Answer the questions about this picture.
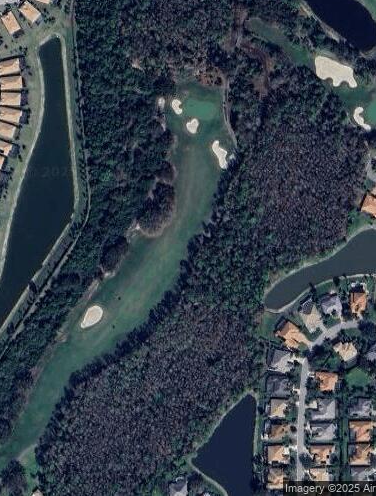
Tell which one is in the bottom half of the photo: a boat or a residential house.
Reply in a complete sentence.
The one visible in the bottom half of the photo is a residential house.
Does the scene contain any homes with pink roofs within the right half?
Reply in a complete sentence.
No, no home with a pink roof can be made out within the right half.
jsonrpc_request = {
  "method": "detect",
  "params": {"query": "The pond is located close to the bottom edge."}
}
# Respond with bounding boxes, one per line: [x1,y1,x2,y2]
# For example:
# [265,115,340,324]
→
[192,395,257,496]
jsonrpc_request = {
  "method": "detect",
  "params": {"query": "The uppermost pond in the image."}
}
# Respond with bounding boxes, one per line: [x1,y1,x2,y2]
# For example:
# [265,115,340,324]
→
[265,228,376,310]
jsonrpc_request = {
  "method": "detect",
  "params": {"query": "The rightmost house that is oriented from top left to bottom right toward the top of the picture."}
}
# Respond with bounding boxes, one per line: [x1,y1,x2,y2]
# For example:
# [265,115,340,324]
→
[20,0,47,25]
